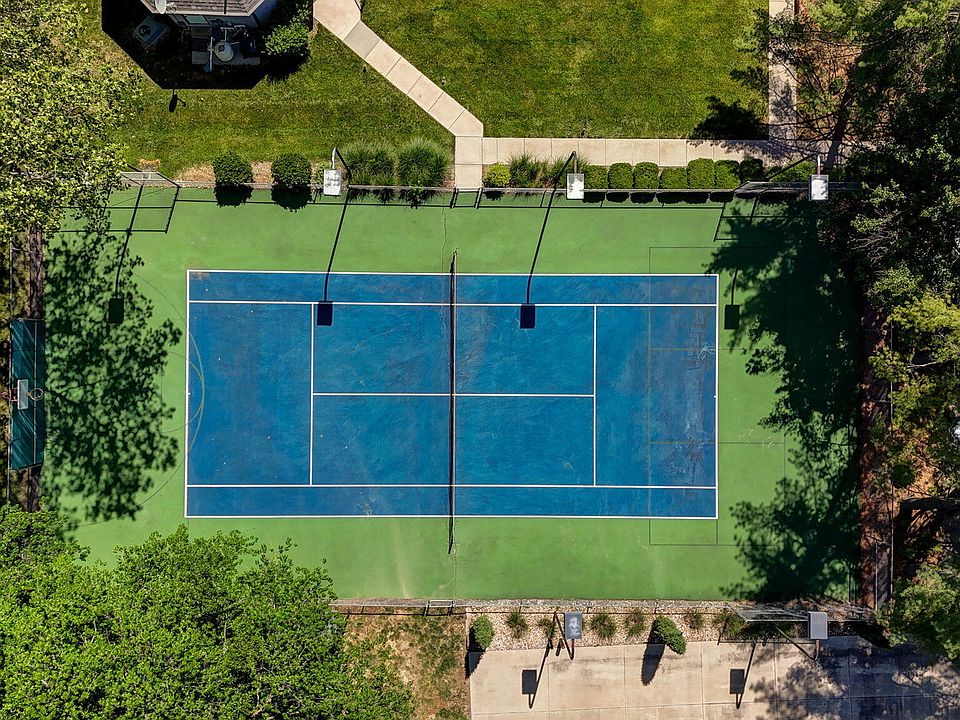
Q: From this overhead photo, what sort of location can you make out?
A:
sports ground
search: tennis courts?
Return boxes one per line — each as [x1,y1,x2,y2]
[40,189,862,602]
